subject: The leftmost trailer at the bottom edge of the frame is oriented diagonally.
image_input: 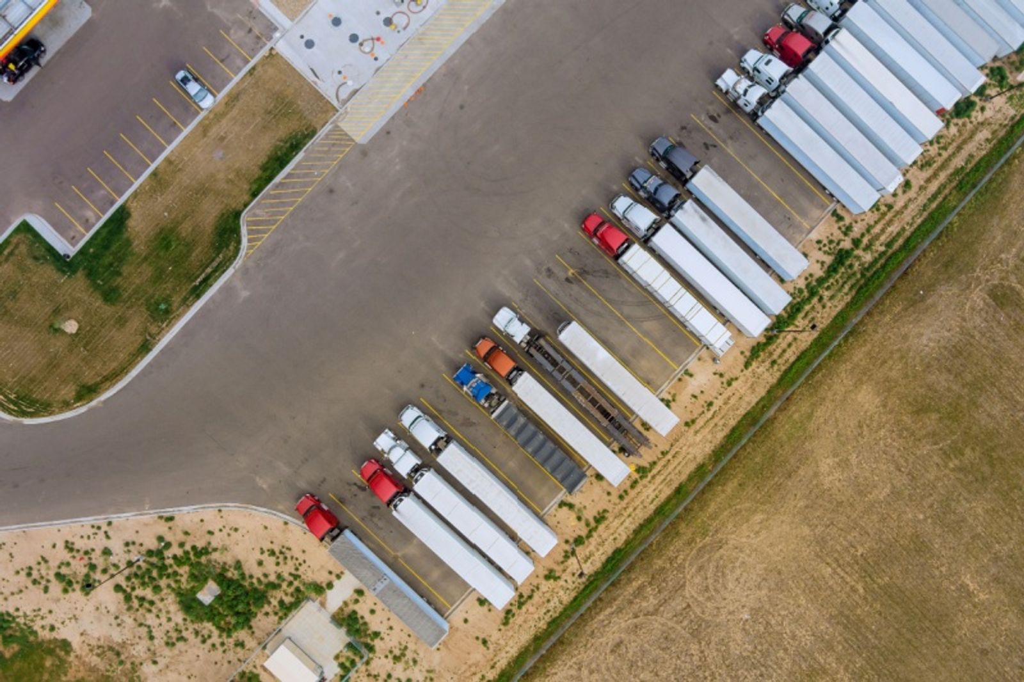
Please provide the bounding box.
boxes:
[328,527,450,649]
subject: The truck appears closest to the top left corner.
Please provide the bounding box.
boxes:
[0,45,48,87]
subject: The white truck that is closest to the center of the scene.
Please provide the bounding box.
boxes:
[493,307,549,362]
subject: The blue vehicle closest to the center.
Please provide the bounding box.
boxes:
[454,364,514,413]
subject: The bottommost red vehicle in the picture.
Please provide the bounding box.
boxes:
[298,493,365,540]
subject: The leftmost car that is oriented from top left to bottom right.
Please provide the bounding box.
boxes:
[176,68,213,108]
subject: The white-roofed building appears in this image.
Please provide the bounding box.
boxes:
[265,635,335,682]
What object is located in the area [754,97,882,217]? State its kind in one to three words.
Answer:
trailer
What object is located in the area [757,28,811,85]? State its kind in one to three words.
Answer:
truck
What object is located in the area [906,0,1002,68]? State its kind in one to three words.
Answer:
trailer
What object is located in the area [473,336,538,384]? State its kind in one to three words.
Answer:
truck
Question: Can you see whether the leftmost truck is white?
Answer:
No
